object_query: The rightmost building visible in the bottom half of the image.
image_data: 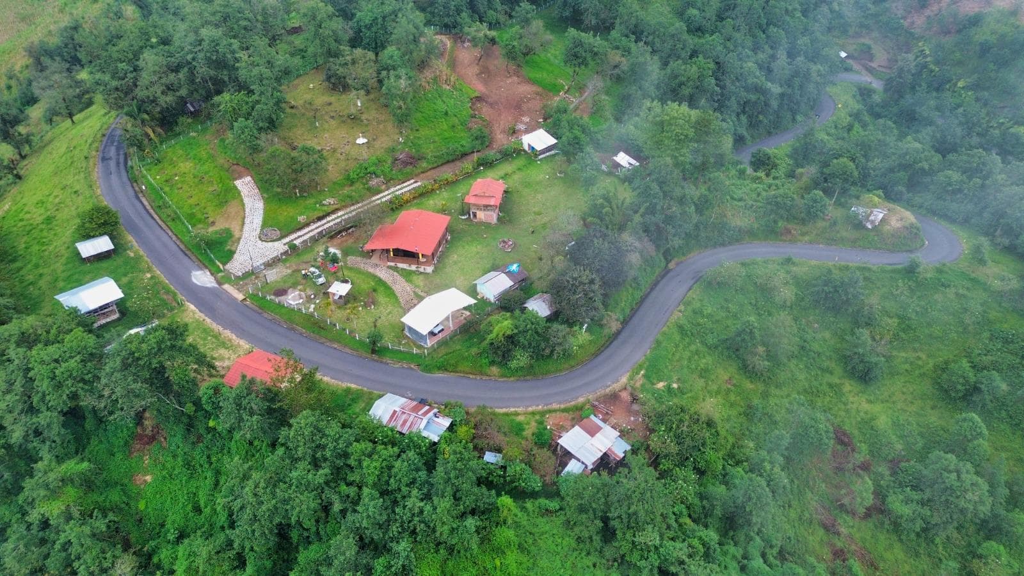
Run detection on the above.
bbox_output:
[558,414,632,481]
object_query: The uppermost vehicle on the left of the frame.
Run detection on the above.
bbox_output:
[301,259,327,285]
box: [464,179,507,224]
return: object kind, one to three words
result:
house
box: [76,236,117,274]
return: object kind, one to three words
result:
shed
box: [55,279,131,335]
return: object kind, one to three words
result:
building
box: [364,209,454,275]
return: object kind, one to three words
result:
house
